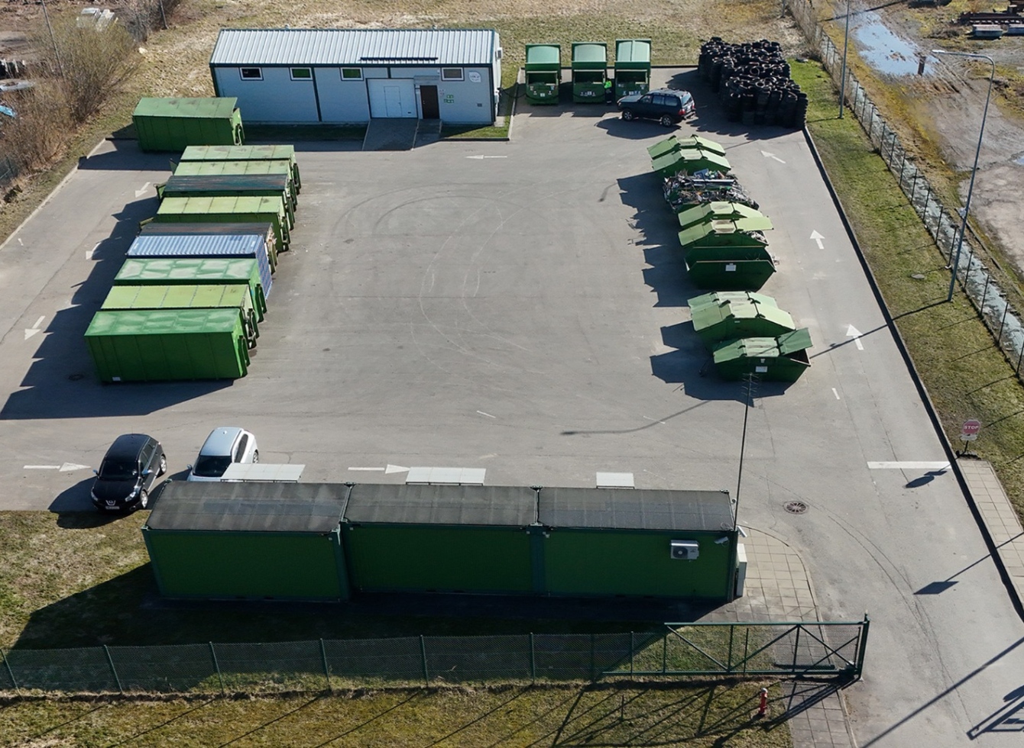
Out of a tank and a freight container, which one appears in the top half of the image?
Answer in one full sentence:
You can see a freight container in the top half of the image.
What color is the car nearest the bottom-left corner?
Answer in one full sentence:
In this view, the car nearest the bottom-left corner is black.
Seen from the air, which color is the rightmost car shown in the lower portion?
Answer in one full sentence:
In this view, the rightmost car shown in the lower portion is white.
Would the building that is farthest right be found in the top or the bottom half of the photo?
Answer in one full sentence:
The bottom half of the photo is where the building that is farthest right is.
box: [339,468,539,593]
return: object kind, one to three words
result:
building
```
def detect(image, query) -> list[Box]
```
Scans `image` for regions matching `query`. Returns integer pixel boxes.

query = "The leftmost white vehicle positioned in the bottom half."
[184,424,254,483]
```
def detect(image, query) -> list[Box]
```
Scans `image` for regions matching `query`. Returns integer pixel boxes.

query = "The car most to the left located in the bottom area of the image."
[89,427,167,514]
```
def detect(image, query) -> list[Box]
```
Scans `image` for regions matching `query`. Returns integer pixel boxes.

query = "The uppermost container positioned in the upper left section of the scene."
[134,98,247,149]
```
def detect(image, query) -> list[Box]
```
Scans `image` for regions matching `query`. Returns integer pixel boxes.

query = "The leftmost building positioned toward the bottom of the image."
[139,467,354,603]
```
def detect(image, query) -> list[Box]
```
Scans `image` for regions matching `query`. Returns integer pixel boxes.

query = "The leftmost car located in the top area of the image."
[616,87,694,125]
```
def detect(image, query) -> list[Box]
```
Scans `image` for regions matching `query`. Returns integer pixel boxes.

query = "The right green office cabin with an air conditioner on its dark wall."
[537,472,736,599]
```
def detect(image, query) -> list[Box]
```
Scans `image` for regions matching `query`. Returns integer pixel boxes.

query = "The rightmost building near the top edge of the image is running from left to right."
[208,24,504,122]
